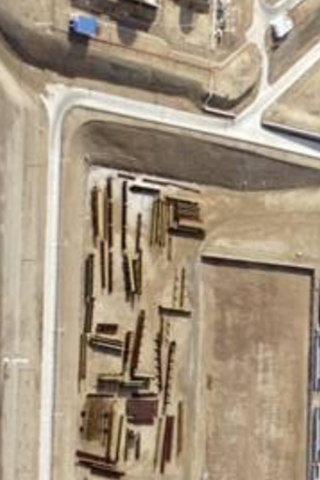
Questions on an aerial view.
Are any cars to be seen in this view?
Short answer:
No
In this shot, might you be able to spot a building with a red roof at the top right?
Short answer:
No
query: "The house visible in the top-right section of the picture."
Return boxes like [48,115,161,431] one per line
[267,15,294,39]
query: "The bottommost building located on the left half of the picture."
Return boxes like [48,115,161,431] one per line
[67,13,101,39]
